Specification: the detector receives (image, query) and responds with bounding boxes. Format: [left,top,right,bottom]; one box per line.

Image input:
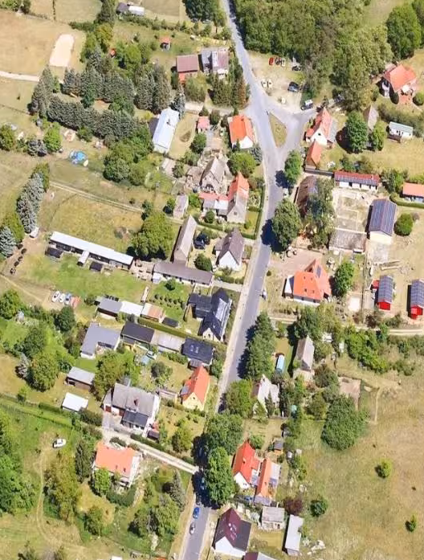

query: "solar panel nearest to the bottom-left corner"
[124,412,147,427]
